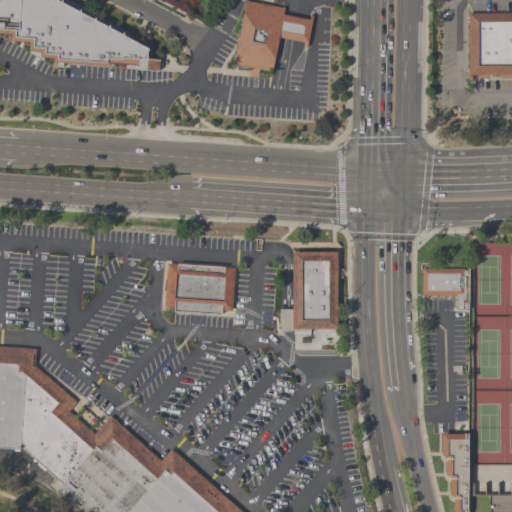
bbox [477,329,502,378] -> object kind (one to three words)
tennis court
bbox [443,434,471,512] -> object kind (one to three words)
building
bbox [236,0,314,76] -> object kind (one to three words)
building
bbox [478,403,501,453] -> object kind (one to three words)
tennis court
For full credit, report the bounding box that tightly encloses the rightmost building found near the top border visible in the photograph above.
[470,12,512,80]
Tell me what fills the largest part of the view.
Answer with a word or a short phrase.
paved ground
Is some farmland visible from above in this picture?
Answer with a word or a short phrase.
No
